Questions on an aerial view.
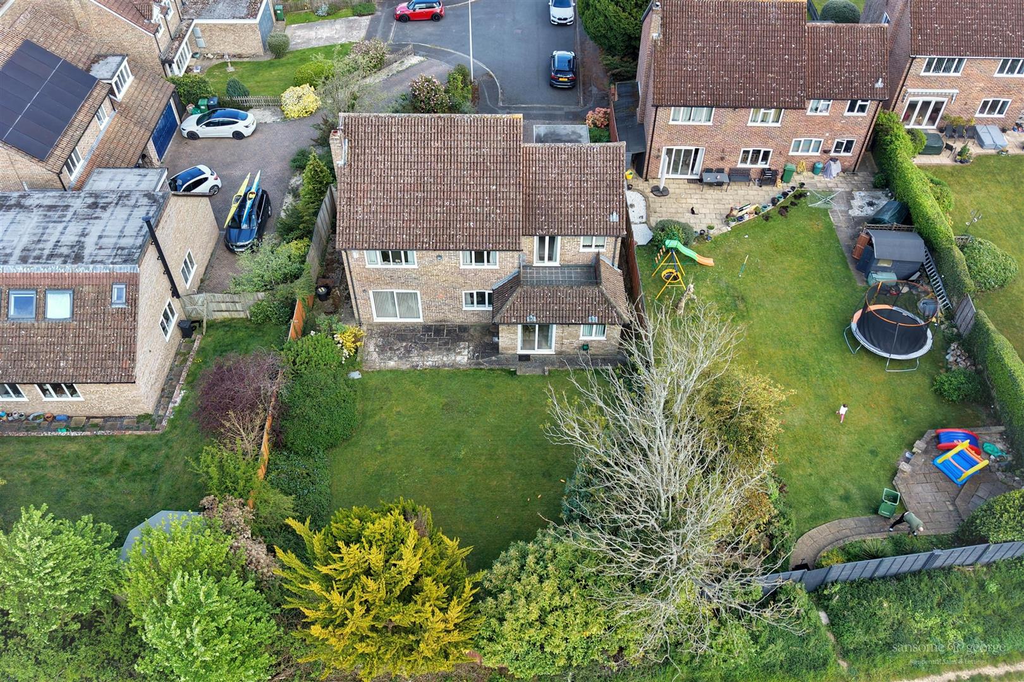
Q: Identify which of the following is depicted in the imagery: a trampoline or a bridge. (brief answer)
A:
trampoline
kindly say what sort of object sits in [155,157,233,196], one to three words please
car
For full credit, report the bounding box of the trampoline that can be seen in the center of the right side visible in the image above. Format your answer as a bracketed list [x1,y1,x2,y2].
[842,282,941,377]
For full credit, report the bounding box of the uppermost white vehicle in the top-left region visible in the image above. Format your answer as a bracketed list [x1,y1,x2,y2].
[178,105,261,142]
